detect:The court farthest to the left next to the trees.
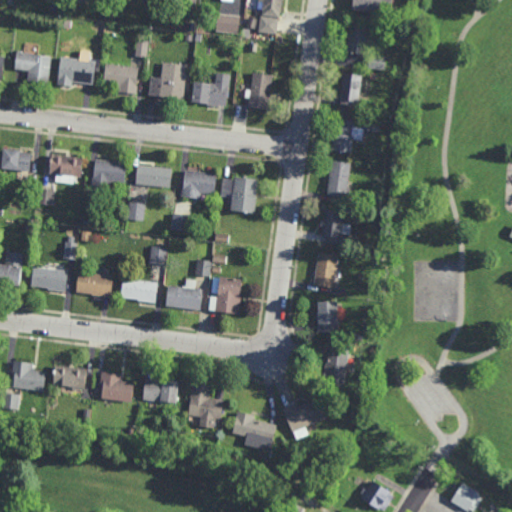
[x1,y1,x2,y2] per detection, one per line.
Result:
[414,262,459,322]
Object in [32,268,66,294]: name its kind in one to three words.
house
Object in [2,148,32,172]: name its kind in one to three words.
house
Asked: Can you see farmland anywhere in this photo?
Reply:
No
